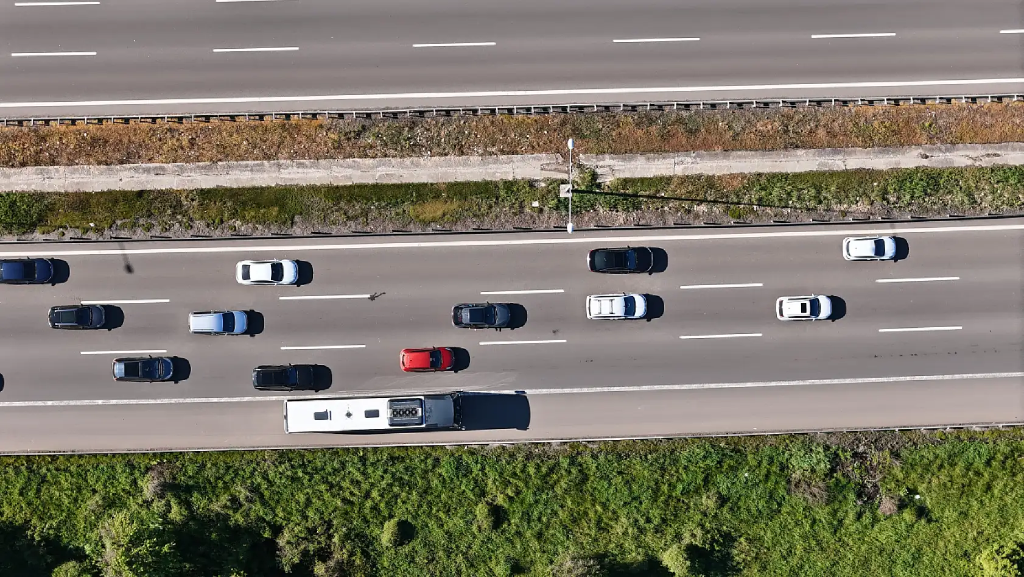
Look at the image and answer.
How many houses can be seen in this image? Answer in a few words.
zero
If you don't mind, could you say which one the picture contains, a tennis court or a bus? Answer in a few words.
bus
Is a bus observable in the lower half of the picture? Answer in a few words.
Yes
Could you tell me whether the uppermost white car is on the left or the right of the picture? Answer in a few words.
right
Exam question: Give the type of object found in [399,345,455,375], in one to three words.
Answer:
car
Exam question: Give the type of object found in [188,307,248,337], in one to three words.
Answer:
car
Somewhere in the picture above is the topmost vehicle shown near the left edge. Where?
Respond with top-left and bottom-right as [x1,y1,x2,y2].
[0,256,54,287]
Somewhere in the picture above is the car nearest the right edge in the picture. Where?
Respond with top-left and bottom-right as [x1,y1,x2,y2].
[843,234,896,263]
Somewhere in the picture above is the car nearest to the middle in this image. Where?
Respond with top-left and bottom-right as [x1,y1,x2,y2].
[451,300,511,331]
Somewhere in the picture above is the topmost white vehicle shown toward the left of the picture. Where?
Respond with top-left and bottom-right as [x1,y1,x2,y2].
[235,257,298,288]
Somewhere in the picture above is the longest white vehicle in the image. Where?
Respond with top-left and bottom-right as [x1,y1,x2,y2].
[281,390,464,435]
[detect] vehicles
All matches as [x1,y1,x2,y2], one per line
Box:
[252,362,315,394]
[776,293,832,323]
[281,390,464,435]
[586,291,647,322]
[587,244,653,275]
[399,345,455,375]
[111,354,173,385]
[0,256,54,287]
[48,302,106,333]
[451,300,511,331]
[235,257,298,288]
[843,234,896,263]
[188,307,248,337]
